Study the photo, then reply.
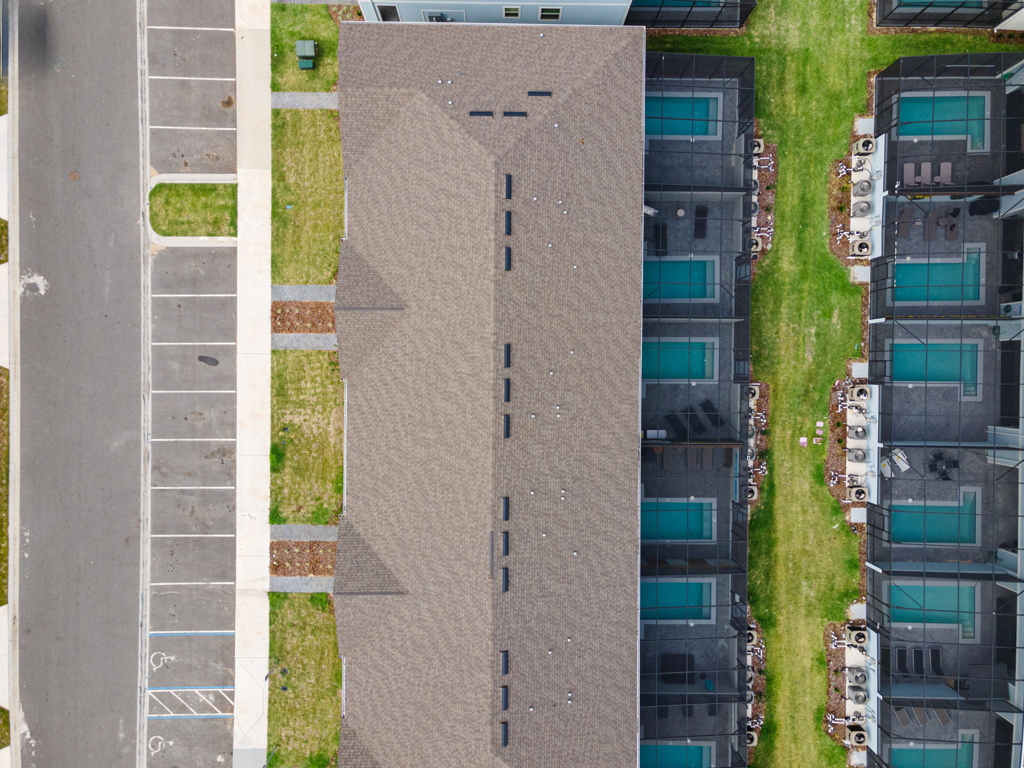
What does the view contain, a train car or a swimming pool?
swimming pool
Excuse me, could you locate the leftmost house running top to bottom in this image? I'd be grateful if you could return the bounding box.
[336,21,646,768]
